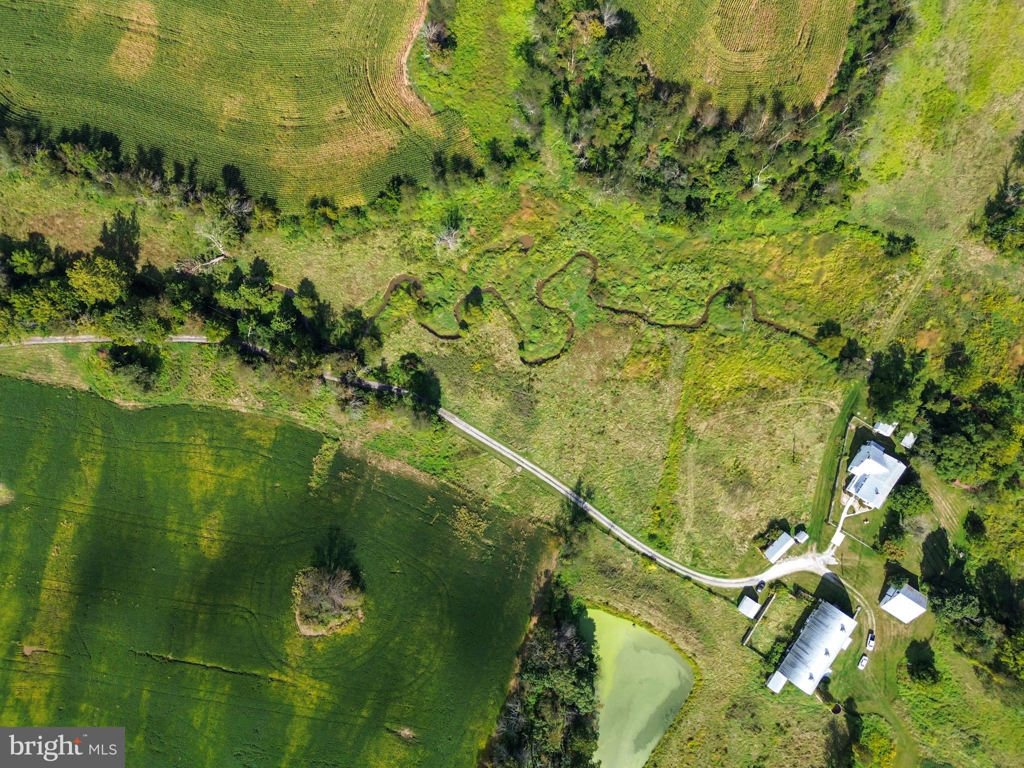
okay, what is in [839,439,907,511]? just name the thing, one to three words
house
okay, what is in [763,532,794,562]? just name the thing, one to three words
shed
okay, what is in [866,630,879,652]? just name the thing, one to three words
vehicle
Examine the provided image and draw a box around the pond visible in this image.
[575,606,695,768]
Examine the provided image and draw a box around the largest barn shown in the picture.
[766,597,857,693]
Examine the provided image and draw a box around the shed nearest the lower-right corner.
[877,579,928,623]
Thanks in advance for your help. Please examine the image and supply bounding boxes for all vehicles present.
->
[756,580,765,593]
[857,654,870,673]
[866,630,879,652]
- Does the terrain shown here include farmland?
Yes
